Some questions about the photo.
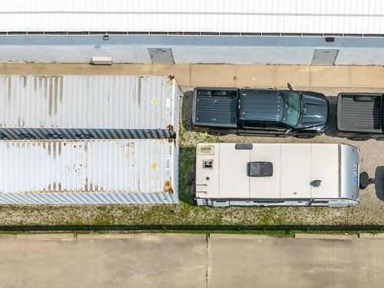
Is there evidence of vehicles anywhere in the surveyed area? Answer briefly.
Yes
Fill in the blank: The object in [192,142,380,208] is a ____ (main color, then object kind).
white trailer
